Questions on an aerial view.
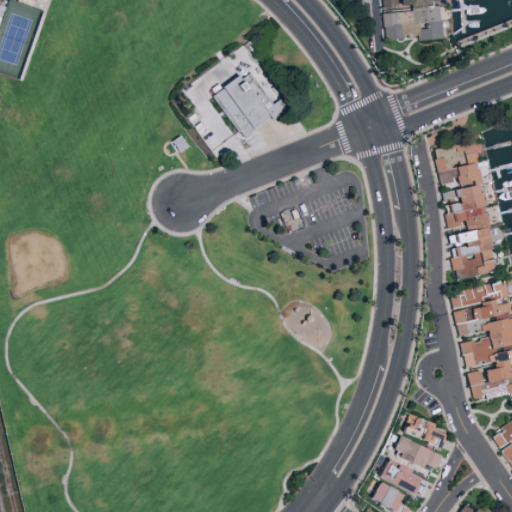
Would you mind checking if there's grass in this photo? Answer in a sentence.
Yes, there is grass in the image.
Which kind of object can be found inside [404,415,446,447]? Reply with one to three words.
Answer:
house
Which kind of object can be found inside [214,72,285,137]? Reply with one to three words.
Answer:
building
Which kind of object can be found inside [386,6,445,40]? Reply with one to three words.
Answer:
building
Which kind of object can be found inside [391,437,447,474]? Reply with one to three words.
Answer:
house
